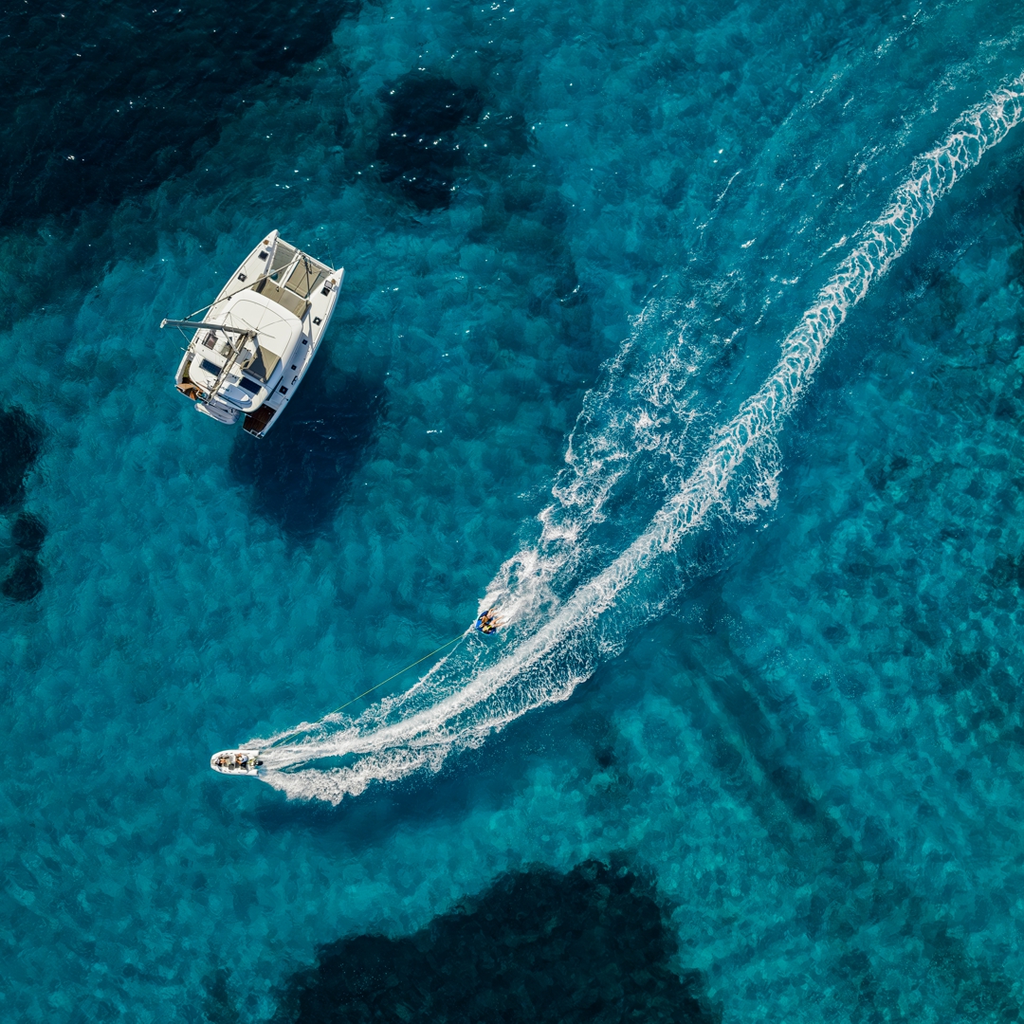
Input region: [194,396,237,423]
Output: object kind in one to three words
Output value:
boat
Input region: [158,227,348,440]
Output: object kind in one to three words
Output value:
boat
